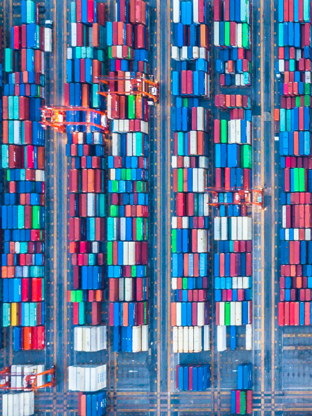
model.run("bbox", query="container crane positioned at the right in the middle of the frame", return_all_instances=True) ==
[204,185,262,210]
